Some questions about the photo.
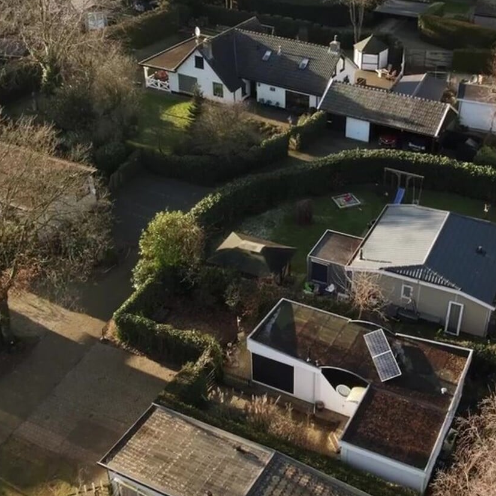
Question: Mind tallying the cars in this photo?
2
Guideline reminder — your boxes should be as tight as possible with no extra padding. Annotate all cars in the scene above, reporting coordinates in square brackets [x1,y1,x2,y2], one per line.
[405,129,443,155]
[373,125,406,147]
